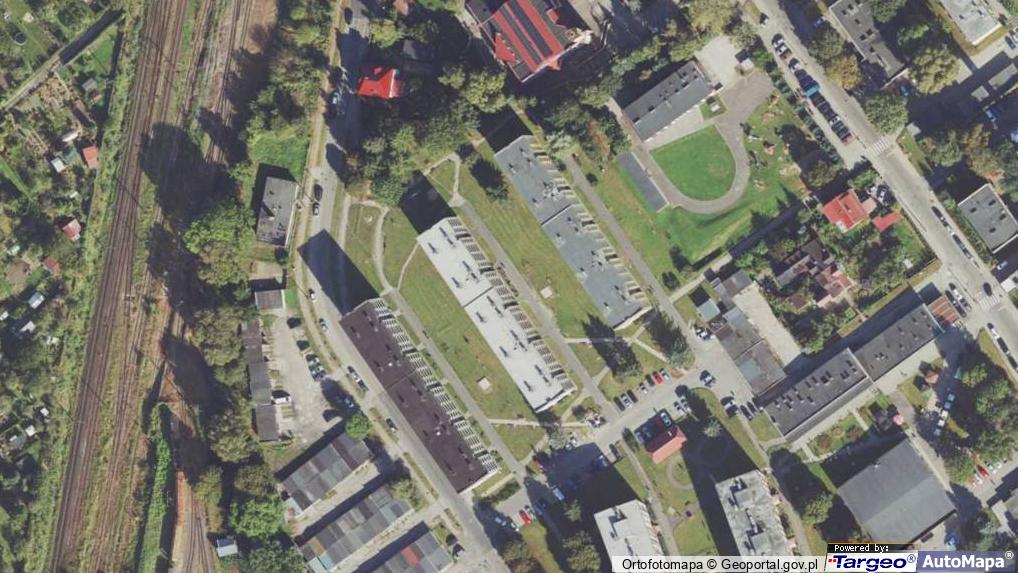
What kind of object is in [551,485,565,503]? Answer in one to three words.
vehicle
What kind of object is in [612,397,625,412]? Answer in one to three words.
vehicle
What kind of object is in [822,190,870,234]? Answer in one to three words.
house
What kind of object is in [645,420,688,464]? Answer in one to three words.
building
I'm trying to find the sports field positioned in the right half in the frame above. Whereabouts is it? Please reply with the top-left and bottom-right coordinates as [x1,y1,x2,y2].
[635,110,754,213]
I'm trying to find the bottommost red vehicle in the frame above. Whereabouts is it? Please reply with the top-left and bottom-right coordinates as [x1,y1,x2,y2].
[519,509,532,524]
